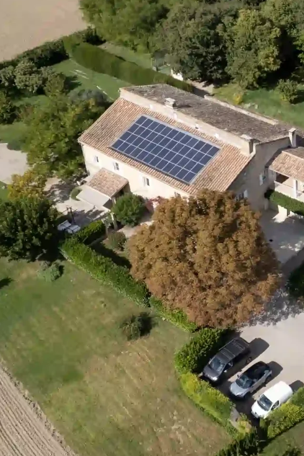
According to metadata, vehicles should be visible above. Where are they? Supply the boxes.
[248,381,294,421]
[230,365,275,402]
[202,341,253,385]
